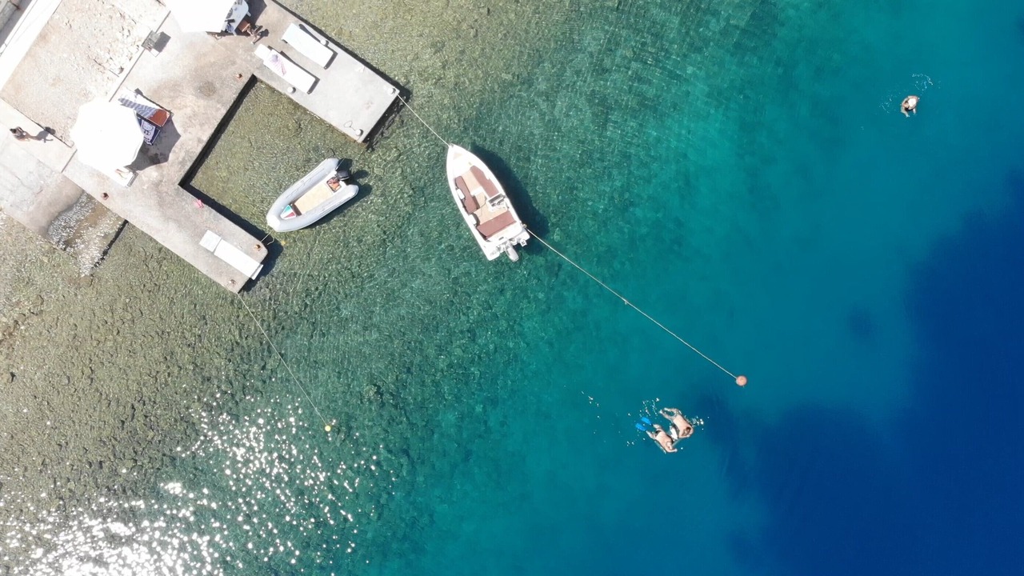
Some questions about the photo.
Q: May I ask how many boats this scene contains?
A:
two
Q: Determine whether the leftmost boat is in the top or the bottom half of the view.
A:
top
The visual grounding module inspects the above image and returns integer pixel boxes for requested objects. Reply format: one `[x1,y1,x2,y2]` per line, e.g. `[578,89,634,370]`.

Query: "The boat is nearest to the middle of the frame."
[446,144,530,261]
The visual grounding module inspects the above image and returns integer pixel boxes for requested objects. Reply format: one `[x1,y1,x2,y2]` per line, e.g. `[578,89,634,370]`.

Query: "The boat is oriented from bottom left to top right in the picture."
[262,154,363,234]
